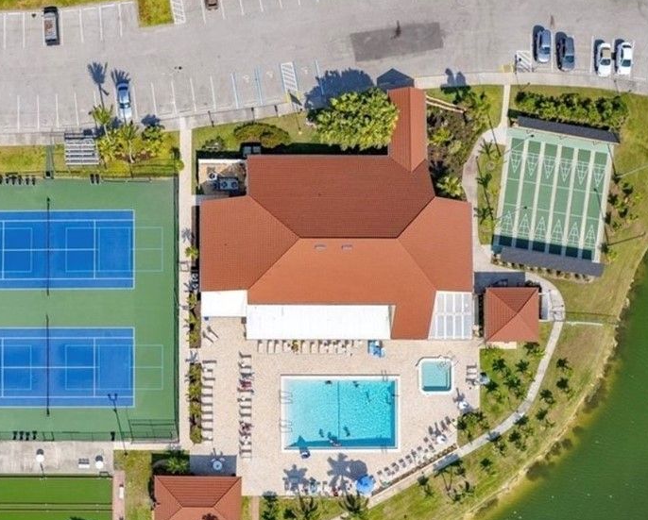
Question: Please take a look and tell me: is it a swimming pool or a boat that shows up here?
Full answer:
I can see a swimming pool in this picture.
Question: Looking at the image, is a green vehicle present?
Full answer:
No, the picture doesn't show any green vehicle.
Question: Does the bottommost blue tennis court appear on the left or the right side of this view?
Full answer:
It is on the left.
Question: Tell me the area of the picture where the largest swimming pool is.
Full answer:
The largest swimming pool sits in the bottom section of the image.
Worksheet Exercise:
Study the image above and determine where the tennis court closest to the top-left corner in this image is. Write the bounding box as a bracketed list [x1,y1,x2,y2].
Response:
[0,196,162,296]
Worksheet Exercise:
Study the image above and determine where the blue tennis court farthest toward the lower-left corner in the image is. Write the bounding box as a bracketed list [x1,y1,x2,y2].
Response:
[0,314,162,416]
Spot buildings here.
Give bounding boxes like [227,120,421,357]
[199,87,474,340]
[154,475,243,520]
[476,287,540,348]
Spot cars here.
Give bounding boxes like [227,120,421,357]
[42,8,60,42]
[535,26,554,62]
[615,39,634,74]
[556,34,576,70]
[205,0,218,10]
[116,83,133,120]
[594,40,614,75]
